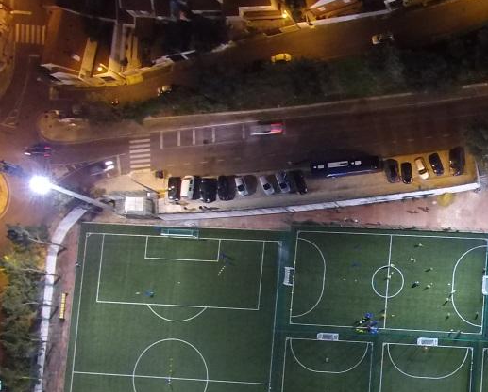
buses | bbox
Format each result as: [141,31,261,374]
[310,153,476,198]
[305,153,380,176]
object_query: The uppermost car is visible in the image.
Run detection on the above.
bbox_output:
[368,30,391,44]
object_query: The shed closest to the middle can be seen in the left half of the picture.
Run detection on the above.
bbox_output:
[111,191,159,216]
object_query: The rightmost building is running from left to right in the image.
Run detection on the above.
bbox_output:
[295,0,394,27]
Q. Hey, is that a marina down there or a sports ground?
sports ground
